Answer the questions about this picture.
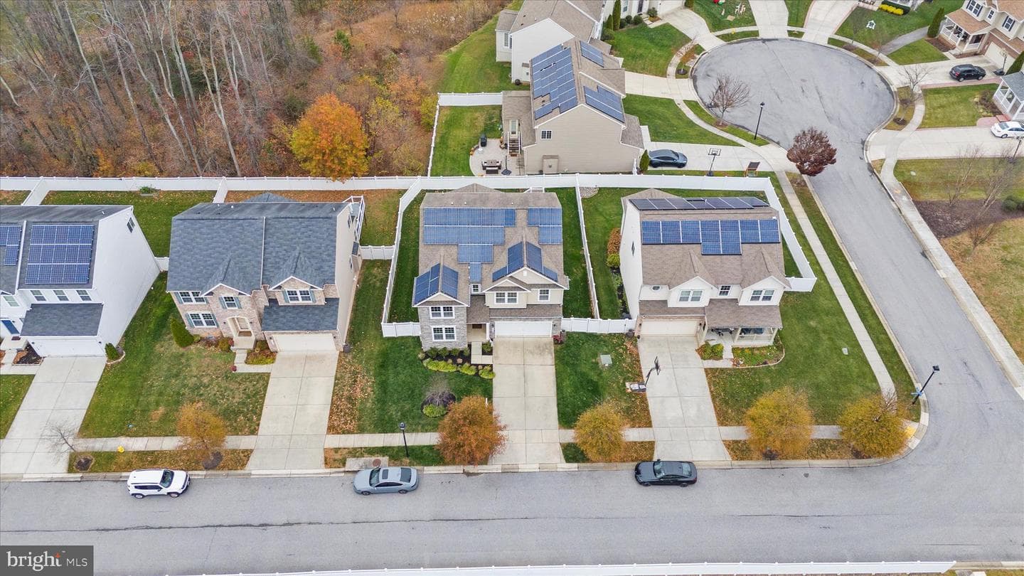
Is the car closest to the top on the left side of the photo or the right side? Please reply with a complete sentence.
It is on the right.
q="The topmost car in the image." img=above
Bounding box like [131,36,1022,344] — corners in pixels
[950,57,990,79]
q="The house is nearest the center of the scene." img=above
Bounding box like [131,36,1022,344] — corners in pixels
[411,176,568,350]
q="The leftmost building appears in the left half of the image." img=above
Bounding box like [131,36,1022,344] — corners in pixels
[0,206,156,355]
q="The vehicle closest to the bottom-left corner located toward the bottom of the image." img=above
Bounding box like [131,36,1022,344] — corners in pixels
[125,468,187,498]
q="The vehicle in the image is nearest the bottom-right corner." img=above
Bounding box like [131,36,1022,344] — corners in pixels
[636,457,699,486]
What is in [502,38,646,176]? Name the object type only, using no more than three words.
house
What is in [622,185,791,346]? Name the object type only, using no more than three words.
house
